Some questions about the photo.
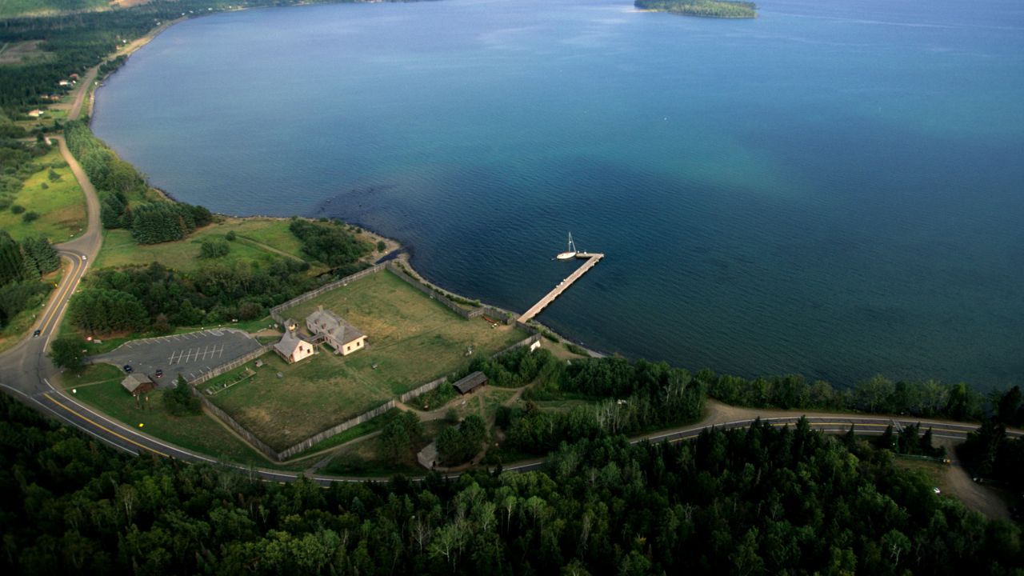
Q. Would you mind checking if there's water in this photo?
Yes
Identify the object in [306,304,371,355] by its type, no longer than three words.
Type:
building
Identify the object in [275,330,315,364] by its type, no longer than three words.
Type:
building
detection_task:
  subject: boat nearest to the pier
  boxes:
[556,235,576,258]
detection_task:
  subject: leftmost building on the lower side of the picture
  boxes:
[123,370,156,398]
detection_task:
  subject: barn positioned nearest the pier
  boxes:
[451,367,488,393]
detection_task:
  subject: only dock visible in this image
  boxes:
[516,255,606,325]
